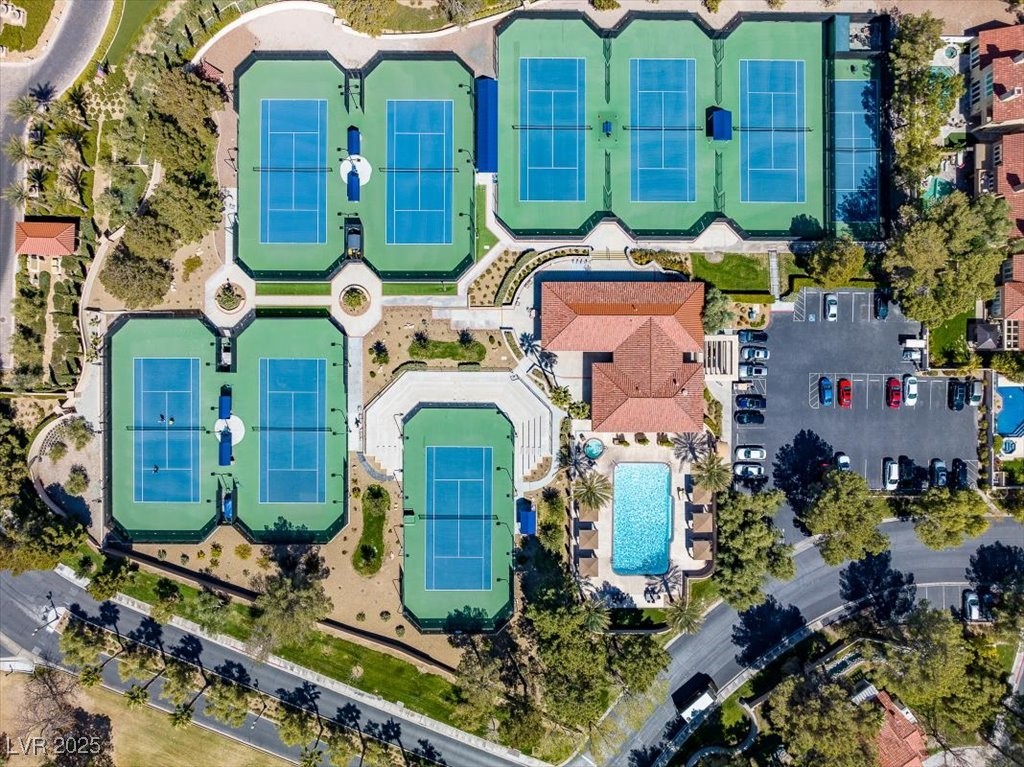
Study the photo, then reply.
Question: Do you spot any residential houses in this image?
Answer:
Yes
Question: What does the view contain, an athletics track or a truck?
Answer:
truck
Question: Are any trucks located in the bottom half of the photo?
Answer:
Yes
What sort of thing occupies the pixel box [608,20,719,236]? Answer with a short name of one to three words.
tennis court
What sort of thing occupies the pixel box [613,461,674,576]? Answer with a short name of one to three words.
swimming pool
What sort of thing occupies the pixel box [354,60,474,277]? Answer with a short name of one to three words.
tennis court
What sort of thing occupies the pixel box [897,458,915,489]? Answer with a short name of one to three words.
car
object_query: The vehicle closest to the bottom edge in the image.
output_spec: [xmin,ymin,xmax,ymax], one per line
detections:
[678,677,721,724]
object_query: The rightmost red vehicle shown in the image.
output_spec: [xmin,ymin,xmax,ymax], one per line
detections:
[885,378,901,407]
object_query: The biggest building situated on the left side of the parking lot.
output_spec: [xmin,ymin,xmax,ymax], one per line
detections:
[541,281,705,432]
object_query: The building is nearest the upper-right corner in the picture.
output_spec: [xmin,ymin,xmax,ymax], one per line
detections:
[969,24,1024,74]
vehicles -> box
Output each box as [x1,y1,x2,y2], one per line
[737,330,767,344]
[912,466,929,495]
[736,382,750,391]
[965,379,982,407]
[678,677,721,724]
[823,294,838,322]
[733,411,763,425]
[740,348,768,360]
[818,378,833,406]
[947,378,967,410]
[963,590,981,620]
[902,377,918,406]
[930,458,946,489]
[872,291,889,320]
[837,380,852,408]
[733,396,766,409]
[835,453,851,482]
[980,589,995,622]
[882,460,899,489]
[885,378,901,407]
[735,447,765,461]
[951,460,968,488]
[897,458,915,489]
[738,364,766,377]
[733,464,763,477]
